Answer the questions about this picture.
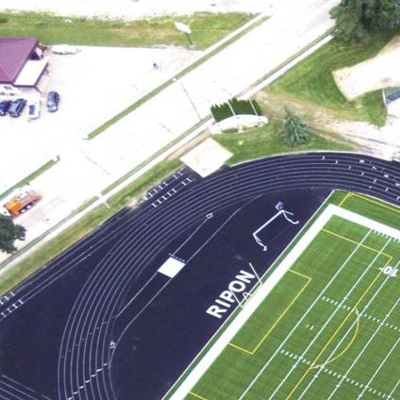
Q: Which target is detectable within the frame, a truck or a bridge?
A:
truck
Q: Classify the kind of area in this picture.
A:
sports ground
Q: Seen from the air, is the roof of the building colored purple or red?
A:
purple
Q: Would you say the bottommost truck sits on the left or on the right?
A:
left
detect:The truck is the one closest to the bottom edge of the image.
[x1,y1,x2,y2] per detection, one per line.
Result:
[1,189,48,223]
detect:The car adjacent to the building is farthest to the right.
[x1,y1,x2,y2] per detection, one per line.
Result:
[46,92,60,110]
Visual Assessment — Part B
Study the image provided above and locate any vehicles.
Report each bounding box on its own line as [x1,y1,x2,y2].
[0,98,12,116]
[10,97,27,117]
[46,92,60,110]
[1,189,48,223]
[25,98,41,119]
